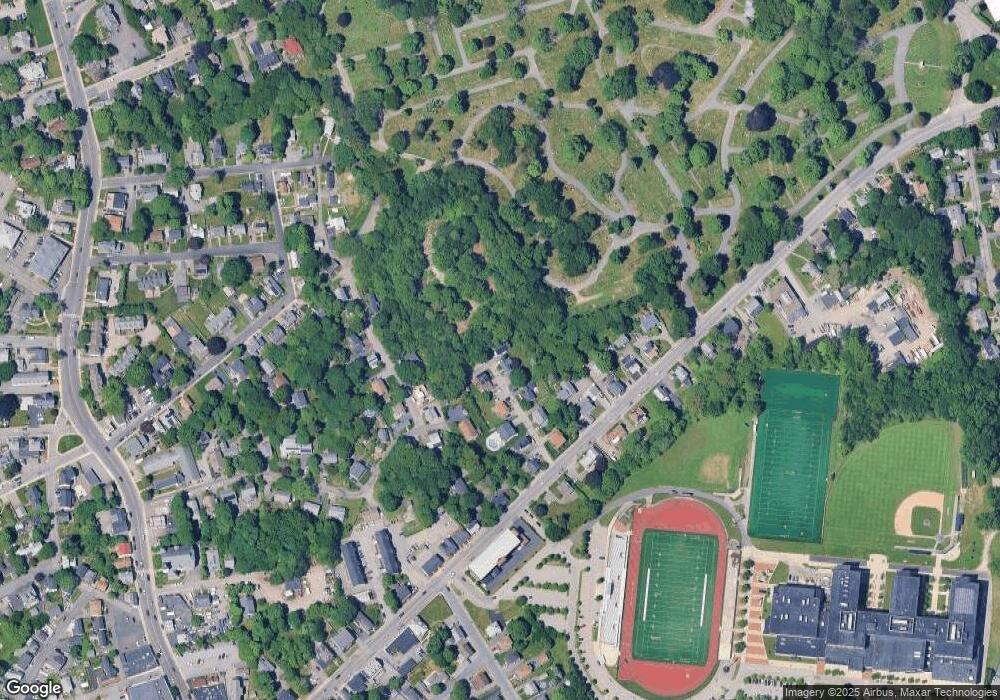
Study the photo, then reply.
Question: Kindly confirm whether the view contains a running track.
Yes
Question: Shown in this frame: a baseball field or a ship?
baseball field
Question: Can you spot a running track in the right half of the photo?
Yes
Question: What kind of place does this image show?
residential area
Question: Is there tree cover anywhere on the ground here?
Yes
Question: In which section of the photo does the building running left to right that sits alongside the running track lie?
bottom right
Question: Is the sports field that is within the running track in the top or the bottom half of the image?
bottom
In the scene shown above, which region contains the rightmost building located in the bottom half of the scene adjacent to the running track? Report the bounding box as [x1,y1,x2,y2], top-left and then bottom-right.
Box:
[764,562,983,685]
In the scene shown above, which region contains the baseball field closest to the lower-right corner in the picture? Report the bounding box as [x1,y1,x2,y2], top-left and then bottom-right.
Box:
[825,422,967,560]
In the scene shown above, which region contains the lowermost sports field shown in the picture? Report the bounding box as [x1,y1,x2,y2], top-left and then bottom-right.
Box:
[633,530,719,666]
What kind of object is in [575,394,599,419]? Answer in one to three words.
house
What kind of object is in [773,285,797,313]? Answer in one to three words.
building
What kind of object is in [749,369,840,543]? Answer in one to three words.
sports field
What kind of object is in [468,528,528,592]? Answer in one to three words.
building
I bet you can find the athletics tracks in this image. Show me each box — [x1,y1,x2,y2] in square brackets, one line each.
[619,497,729,697]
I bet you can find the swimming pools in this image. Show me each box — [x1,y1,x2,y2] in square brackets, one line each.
[483,432,502,450]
